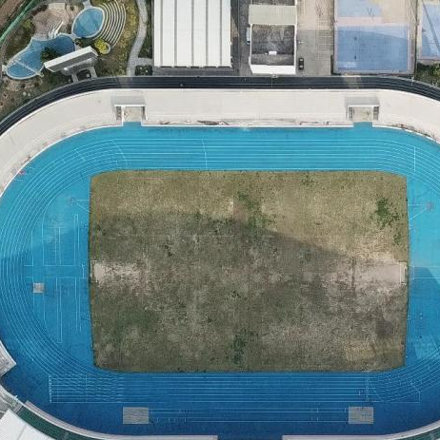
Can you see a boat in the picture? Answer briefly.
No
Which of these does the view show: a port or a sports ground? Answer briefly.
sports ground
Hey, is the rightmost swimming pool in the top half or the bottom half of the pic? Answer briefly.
top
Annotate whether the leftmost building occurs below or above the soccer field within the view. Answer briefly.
above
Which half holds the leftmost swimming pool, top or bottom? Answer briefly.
top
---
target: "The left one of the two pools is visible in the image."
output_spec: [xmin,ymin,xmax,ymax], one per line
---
[2,33,78,80]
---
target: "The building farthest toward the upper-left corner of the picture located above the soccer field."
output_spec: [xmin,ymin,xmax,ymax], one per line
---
[153,0,236,73]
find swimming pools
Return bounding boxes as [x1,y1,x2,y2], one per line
[71,6,106,38]
[2,33,78,80]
